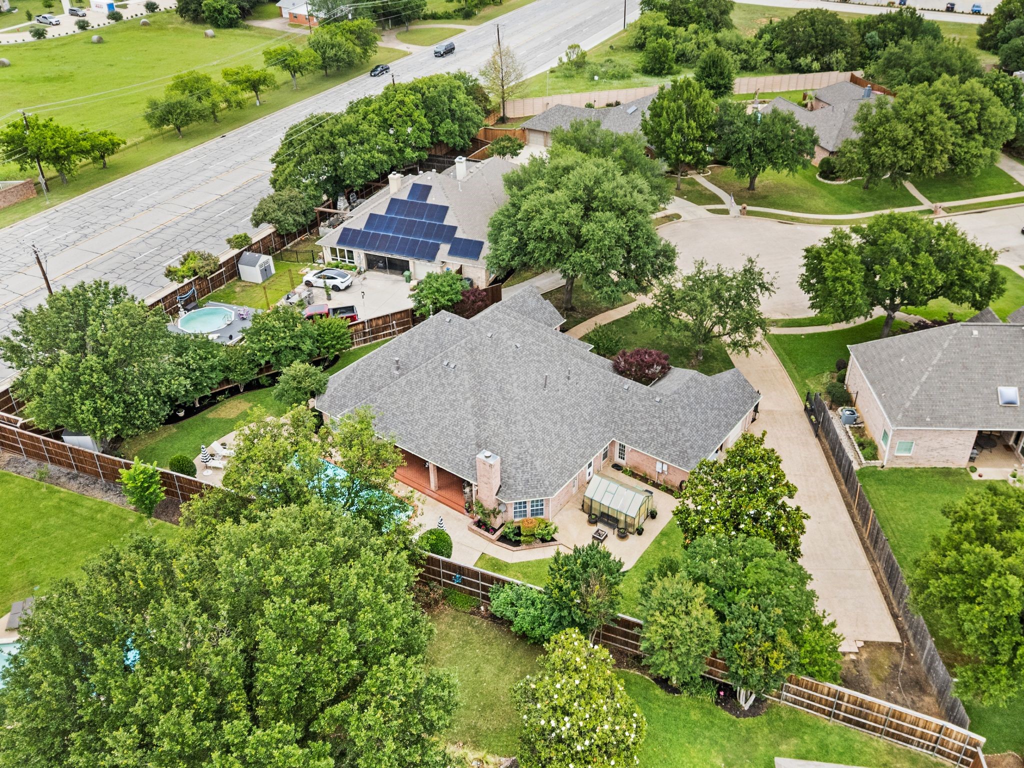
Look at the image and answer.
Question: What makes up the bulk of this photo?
trees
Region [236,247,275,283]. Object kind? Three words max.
shed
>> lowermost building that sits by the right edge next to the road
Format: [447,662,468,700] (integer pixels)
[849,310,1024,457]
